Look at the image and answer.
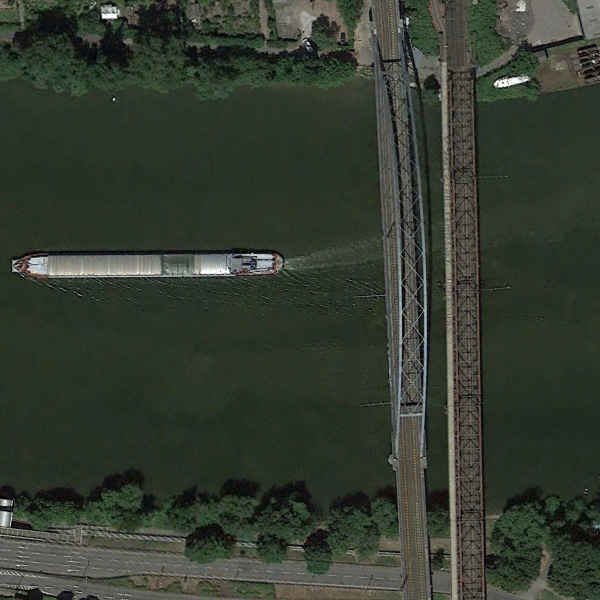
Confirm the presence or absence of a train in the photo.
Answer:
No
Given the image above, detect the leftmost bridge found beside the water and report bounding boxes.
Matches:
[369,0,432,600]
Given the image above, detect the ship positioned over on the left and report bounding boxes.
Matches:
[11,251,285,278]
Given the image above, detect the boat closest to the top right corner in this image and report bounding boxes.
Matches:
[493,75,530,88]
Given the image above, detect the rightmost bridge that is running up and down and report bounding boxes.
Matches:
[437,57,486,600]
